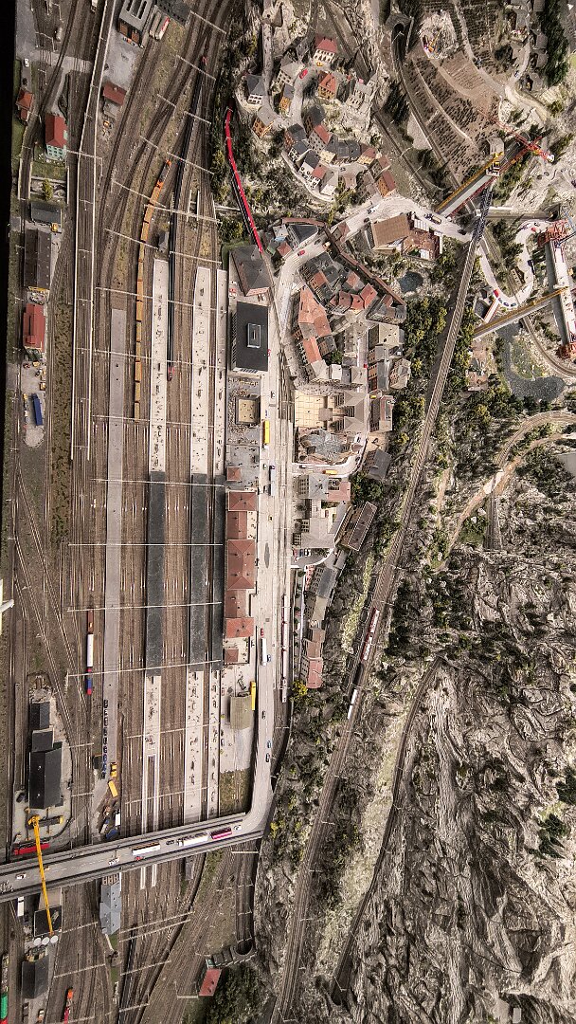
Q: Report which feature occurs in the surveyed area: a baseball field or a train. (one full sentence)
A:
Looking from above, you can make out a train.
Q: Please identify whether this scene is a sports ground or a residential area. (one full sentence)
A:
The area seen from above is a residential area.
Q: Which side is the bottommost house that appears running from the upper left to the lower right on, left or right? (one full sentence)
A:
The bottommost house that appears running from the upper left to the lower right sits on the right side.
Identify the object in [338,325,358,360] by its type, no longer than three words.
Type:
house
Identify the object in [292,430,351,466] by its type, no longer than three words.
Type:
building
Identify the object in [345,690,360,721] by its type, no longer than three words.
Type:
train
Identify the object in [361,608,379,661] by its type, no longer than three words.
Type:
train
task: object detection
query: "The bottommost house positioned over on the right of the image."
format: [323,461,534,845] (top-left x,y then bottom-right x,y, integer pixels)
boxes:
[501,994,522,1023]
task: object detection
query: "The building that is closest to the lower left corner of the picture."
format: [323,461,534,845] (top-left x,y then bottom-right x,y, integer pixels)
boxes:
[22,948,48,998]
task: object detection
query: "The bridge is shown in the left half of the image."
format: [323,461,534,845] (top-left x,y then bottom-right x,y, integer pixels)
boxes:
[0,622,277,902]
